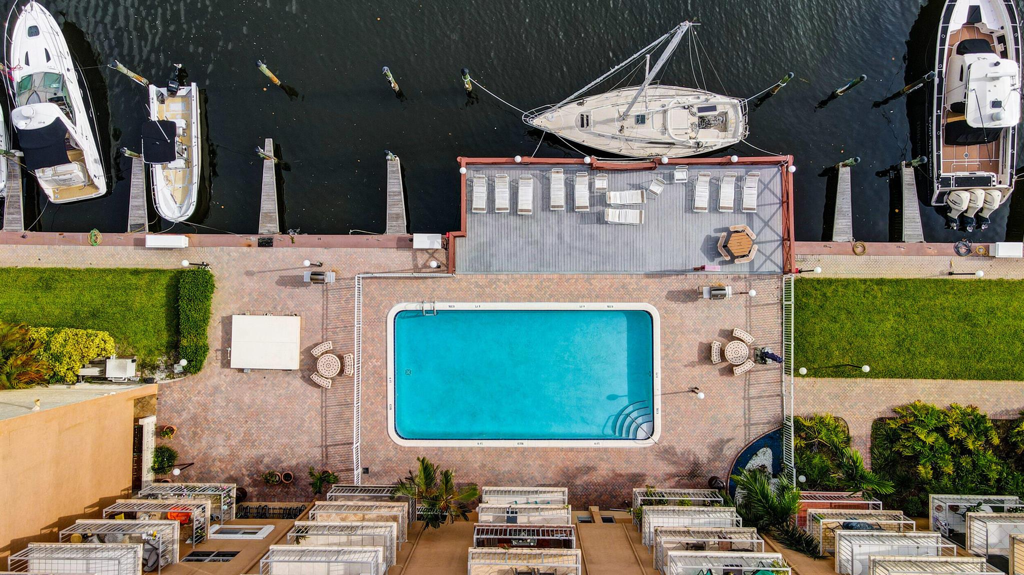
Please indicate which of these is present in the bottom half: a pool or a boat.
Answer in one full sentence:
Looking in the bottom half, you will find a pool.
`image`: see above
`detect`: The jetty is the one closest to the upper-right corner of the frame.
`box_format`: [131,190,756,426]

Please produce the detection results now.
[894,167,925,242]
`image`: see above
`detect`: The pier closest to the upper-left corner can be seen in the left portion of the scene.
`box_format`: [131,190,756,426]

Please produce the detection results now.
[2,150,34,231]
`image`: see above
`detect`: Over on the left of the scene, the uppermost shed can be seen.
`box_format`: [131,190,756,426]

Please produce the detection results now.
[225,312,304,371]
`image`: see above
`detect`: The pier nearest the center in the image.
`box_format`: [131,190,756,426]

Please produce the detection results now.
[385,158,408,234]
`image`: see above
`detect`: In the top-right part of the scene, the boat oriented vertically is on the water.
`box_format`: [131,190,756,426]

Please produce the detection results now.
[923,0,1021,234]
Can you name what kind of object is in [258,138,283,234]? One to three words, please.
pier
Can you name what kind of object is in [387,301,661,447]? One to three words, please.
swimming pool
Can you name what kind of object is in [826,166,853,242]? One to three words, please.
pier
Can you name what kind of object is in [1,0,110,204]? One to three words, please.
boat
